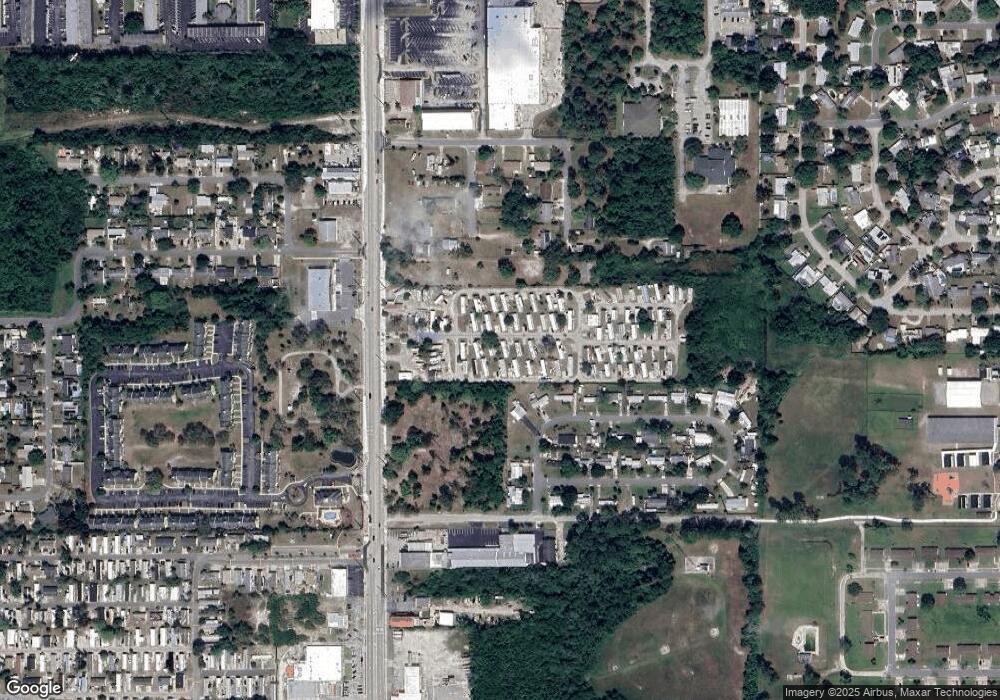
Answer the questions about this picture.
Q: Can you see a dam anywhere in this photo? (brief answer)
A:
No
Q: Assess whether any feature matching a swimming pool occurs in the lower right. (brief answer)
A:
Yes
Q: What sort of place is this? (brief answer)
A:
residential area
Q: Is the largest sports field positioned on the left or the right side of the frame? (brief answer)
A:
right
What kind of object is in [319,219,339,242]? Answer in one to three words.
building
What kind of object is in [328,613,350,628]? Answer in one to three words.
building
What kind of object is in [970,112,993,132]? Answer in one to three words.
house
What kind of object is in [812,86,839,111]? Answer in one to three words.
house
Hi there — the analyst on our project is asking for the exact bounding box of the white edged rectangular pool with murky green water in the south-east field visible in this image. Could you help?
[792,625,818,655]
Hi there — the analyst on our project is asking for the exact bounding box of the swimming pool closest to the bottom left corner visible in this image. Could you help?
[319,510,341,528]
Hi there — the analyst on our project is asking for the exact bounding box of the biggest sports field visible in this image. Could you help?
[766,525,839,622]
